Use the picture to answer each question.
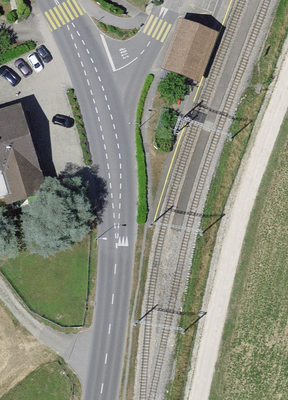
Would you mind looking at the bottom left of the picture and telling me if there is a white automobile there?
No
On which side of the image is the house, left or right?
left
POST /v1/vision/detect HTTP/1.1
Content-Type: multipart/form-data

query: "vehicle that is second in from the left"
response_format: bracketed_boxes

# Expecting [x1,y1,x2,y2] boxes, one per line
[14,57,34,78]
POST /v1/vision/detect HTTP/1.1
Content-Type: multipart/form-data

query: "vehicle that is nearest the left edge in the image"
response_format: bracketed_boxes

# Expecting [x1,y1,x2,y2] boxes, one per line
[0,64,21,87]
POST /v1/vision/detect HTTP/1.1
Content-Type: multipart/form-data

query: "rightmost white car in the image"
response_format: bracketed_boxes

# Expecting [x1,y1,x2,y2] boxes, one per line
[27,51,44,73]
